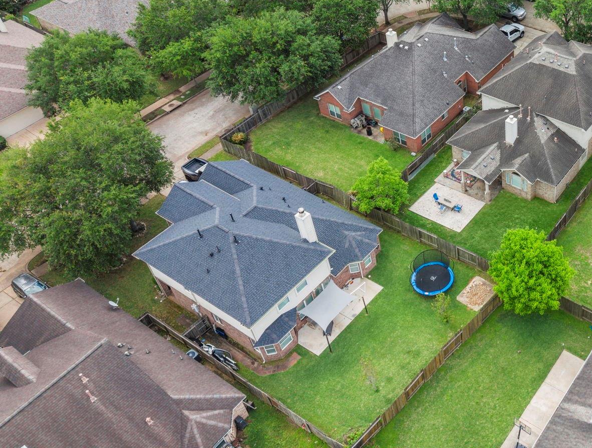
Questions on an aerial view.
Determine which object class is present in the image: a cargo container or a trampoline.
trampoline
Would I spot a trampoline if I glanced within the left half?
No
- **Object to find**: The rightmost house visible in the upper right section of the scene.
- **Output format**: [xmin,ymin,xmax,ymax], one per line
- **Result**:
[446,31,592,204]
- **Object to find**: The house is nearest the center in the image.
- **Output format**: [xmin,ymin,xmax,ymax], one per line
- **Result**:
[132,159,383,366]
